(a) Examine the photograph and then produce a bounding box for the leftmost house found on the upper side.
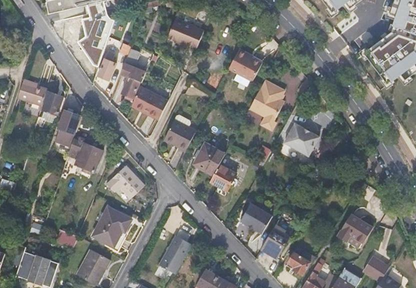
[18,79,48,116]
